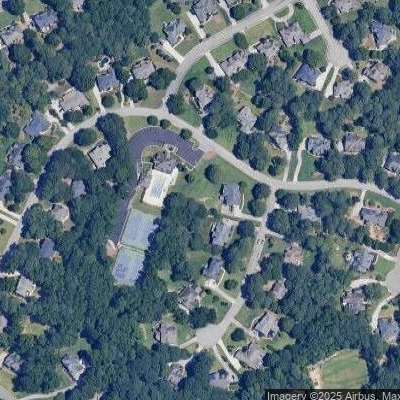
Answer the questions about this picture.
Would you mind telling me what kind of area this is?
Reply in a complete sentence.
This looks like a residential area.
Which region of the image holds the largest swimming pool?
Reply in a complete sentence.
You can find the largest swimming pool in the center area of the picture.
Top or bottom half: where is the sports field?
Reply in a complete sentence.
The bottom half of the photo is where the sports field is.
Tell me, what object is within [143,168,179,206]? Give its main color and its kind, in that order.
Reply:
white swimming pool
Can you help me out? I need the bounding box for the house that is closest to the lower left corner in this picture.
[2,349,26,374]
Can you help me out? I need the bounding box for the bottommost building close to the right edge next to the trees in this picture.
[377,315,400,342]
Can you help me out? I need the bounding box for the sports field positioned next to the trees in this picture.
[310,350,369,398]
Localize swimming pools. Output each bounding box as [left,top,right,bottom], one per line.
[100,56,110,69]
[143,168,179,206]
